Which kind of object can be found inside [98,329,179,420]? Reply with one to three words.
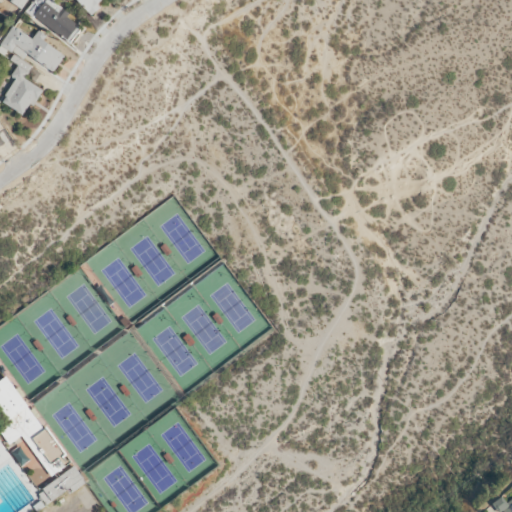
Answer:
tennis court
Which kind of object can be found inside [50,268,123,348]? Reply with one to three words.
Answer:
tennis court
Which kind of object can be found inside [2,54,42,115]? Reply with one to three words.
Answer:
house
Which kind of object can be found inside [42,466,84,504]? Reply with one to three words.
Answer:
building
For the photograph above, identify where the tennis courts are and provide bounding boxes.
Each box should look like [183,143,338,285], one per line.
[148,408,217,484]
[33,378,114,468]
[0,316,60,399]
[136,307,212,391]
[50,268,123,348]
[86,242,160,322]
[118,429,188,506]
[82,451,159,512]
[144,198,218,278]
[164,286,241,370]
[116,220,189,300]
[98,329,179,420]
[194,263,271,348]
[64,353,147,444]
[17,290,94,374]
